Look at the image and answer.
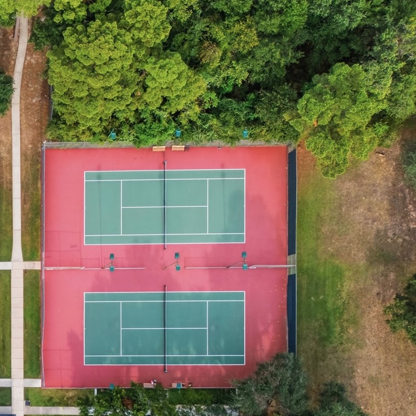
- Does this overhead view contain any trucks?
No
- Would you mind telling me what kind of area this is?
sports ground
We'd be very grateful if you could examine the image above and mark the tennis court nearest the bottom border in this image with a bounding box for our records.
[43,269,288,387]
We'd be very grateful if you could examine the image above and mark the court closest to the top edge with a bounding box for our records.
[44,146,288,269]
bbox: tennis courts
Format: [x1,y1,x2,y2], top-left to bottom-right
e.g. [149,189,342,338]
[44,146,288,269]
[43,269,288,387]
